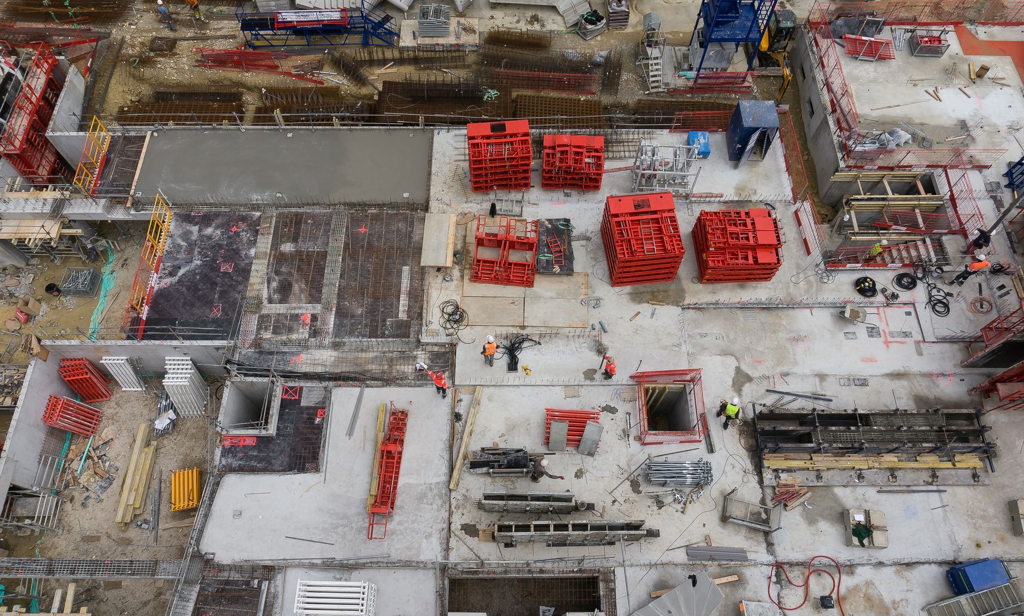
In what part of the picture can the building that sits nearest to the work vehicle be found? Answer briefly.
top right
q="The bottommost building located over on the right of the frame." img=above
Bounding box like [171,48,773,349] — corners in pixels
[723,100,784,180]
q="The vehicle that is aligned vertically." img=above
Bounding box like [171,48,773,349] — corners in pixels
[753,8,798,99]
